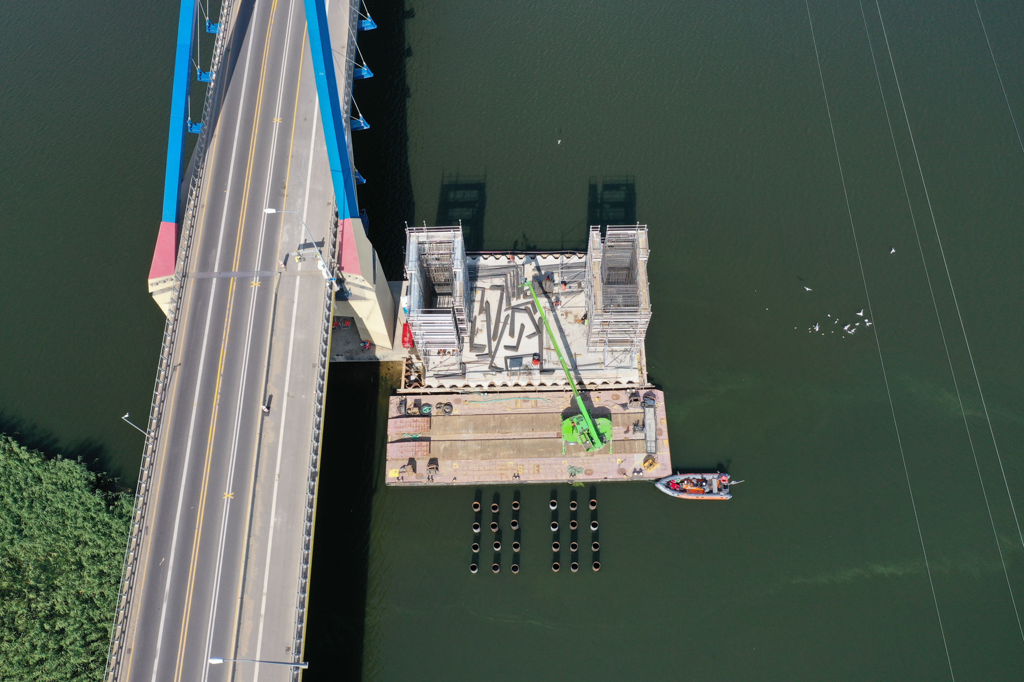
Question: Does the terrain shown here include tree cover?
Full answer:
No, no tree cover is visible.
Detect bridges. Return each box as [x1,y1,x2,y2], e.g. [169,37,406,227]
[98,0,409,682]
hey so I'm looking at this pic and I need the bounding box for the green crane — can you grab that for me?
[518,280,614,458]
